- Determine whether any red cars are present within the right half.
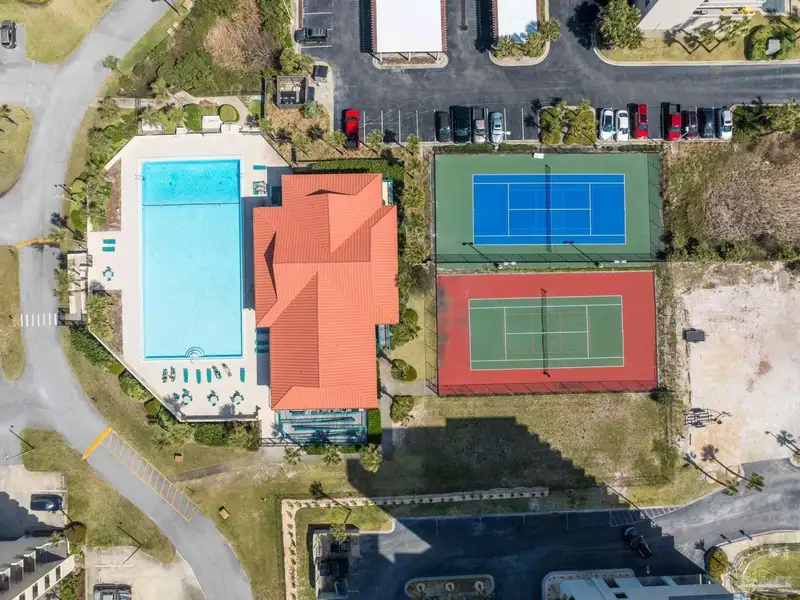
Yes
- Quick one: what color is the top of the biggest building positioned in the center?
red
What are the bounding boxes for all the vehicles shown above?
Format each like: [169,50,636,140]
[472,105,488,144]
[683,109,700,140]
[663,102,681,141]
[455,106,470,143]
[343,109,359,148]
[716,109,734,141]
[633,104,651,140]
[0,20,17,50]
[92,586,131,600]
[698,108,716,141]
[600,109,616,141]
[30,495,63,511]
[616,110,631,142]
[491,112,506,144]
[438,110,452,143]
[295,27,328,45]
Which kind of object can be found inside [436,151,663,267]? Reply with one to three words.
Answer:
tennis court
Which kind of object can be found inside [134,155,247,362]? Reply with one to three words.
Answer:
swimming pool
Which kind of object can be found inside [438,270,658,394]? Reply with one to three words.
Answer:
tennis court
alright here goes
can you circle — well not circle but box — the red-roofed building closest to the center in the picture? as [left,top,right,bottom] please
[253,173,398,410]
